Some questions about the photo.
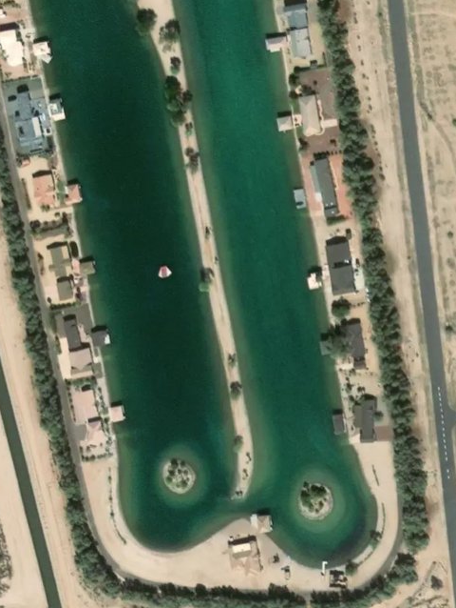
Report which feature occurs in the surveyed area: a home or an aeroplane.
home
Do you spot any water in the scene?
Yes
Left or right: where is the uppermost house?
right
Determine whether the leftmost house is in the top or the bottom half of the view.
top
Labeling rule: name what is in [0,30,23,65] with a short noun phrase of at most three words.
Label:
house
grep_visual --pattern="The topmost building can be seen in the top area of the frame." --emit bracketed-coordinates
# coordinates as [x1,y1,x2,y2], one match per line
[285,1,309,30]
